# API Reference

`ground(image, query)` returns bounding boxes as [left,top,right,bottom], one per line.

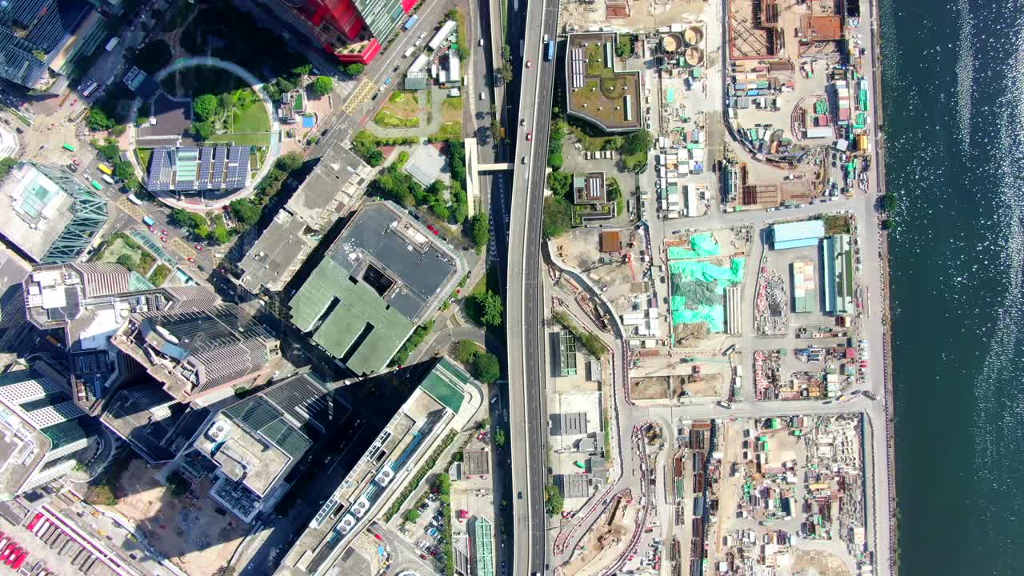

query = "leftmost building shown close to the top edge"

[0,0,120,99]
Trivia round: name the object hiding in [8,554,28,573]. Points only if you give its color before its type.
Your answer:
red vehicle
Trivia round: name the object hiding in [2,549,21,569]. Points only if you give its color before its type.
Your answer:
red vehicle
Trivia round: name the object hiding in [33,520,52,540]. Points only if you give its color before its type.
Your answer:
white vehicle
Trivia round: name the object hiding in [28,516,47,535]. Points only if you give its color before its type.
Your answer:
white vehicle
